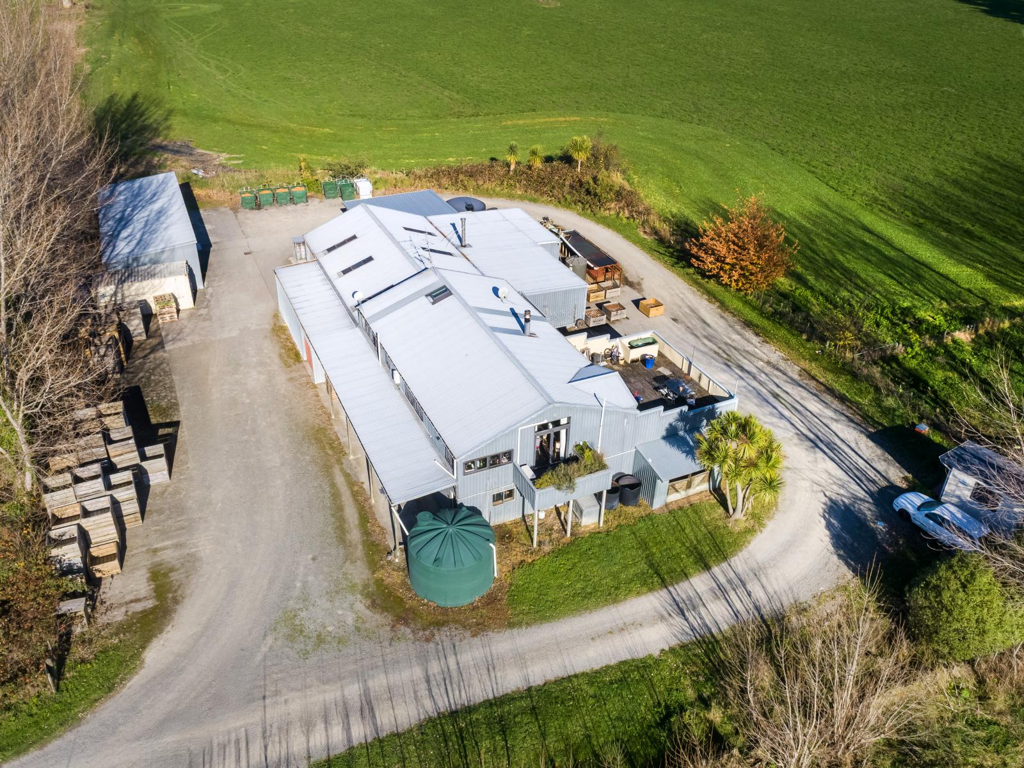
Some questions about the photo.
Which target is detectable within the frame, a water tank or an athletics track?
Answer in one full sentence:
Visible in the photo is a water tank.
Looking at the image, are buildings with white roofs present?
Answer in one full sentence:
Yes, I can see a building with a white roof in this picture.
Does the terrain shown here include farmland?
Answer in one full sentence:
Yes, there is farmland in the image.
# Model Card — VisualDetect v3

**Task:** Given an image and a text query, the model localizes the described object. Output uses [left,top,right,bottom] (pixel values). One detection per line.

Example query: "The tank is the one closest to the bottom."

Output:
[407,503,497,605]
